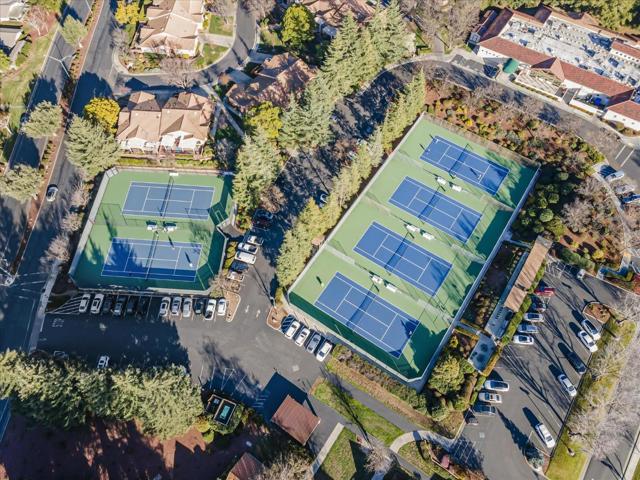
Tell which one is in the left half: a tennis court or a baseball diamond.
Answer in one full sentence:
What appears in the left half is a tennis court.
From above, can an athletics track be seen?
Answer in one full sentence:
No, no athletics track is visible in the scene.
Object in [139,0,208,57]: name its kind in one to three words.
house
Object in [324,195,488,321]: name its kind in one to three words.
tennis court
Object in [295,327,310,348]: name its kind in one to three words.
car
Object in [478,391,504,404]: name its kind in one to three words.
vehicle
